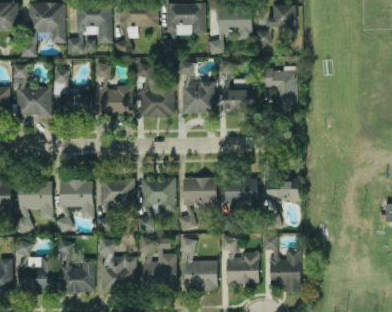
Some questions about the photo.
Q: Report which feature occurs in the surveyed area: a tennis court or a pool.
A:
pool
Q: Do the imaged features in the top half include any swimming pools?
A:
Yes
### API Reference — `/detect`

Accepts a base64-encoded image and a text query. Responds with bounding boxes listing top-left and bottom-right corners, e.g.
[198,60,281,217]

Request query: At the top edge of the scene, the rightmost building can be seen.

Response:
[258,4,298,47]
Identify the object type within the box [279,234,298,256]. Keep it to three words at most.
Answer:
swimming pool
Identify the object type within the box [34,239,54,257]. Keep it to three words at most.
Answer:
swimming pool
